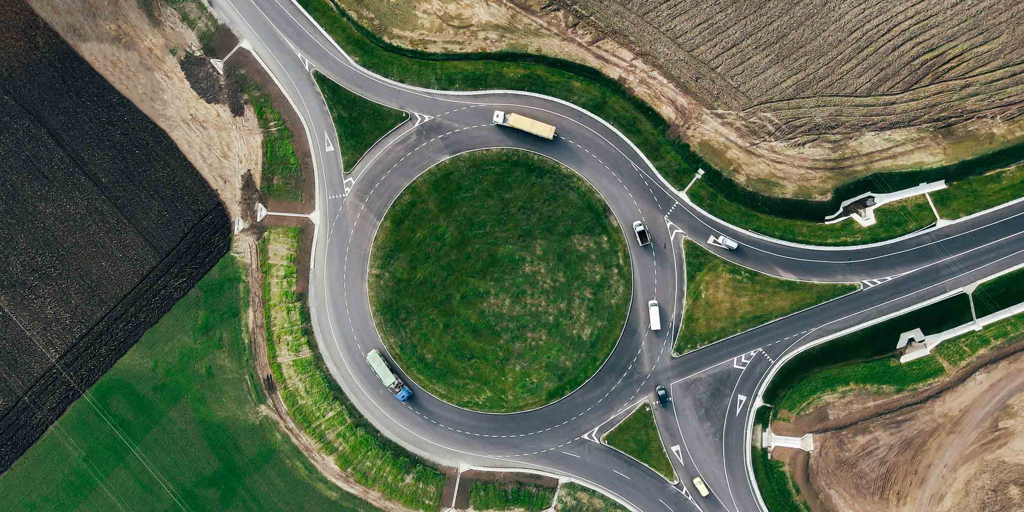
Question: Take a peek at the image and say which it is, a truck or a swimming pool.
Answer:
truck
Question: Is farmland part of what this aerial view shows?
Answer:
Yes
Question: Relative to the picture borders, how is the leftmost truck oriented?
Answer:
at an angle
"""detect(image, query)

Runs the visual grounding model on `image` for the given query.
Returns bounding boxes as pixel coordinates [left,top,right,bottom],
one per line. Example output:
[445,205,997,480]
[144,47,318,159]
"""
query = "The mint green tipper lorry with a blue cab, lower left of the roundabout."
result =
[366,349,414,402]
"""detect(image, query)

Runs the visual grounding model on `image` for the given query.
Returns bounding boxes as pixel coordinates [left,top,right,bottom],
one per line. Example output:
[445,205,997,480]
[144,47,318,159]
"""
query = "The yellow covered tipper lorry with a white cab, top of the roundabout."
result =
[492,109,556,140]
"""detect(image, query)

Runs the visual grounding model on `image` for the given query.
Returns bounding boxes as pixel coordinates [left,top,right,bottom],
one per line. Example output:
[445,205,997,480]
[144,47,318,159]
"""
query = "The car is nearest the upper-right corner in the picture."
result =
[717,235,738,250]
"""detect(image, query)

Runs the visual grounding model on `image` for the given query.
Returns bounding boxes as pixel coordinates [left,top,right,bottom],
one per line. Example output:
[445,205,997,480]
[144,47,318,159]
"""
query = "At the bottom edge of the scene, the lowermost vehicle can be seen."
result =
[692,475,708,496]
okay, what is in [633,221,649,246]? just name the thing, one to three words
vehicle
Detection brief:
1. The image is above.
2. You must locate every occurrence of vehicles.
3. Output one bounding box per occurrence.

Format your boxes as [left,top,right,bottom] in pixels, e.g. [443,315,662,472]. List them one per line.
[647,300,660,330]
[492,109,556,140]
[692,475,708,496]
[633,221,649,246]
[717,235,738,250]
[656,384,668,406]
[366,349,414,402]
